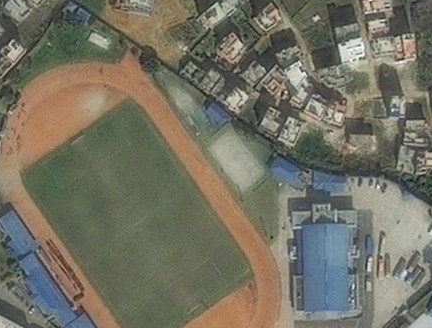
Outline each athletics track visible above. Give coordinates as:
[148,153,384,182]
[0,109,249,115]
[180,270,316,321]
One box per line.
[0,49,282,328]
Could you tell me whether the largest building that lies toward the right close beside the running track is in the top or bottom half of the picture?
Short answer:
bottom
